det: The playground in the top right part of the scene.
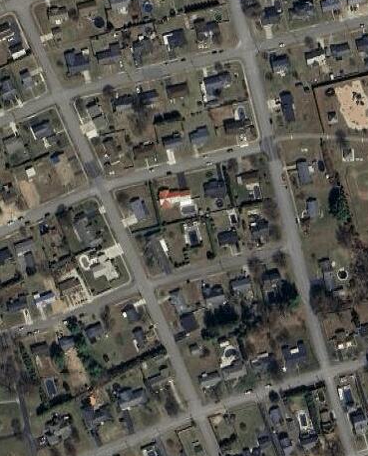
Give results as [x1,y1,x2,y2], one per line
[333,81,368,130]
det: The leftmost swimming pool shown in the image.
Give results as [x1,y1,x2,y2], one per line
[44,377,57,397]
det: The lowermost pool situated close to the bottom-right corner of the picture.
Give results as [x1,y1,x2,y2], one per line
[298,412,311,430]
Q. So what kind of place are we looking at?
residential area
